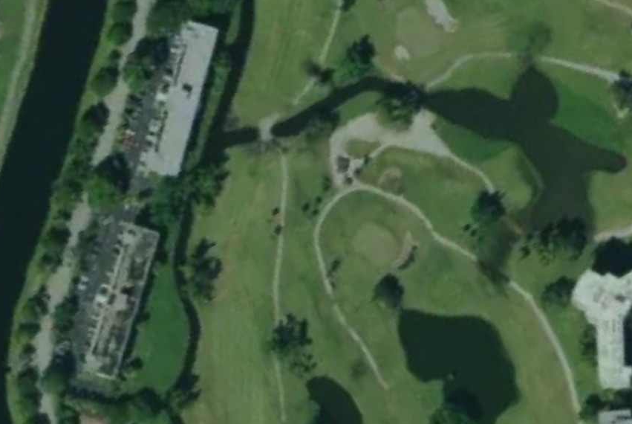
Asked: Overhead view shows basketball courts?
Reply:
No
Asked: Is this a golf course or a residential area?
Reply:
golf course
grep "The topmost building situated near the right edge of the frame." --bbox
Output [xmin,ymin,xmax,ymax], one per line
[569,261,632,388]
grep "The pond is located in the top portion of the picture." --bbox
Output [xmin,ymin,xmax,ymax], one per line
[422,66,627,240]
